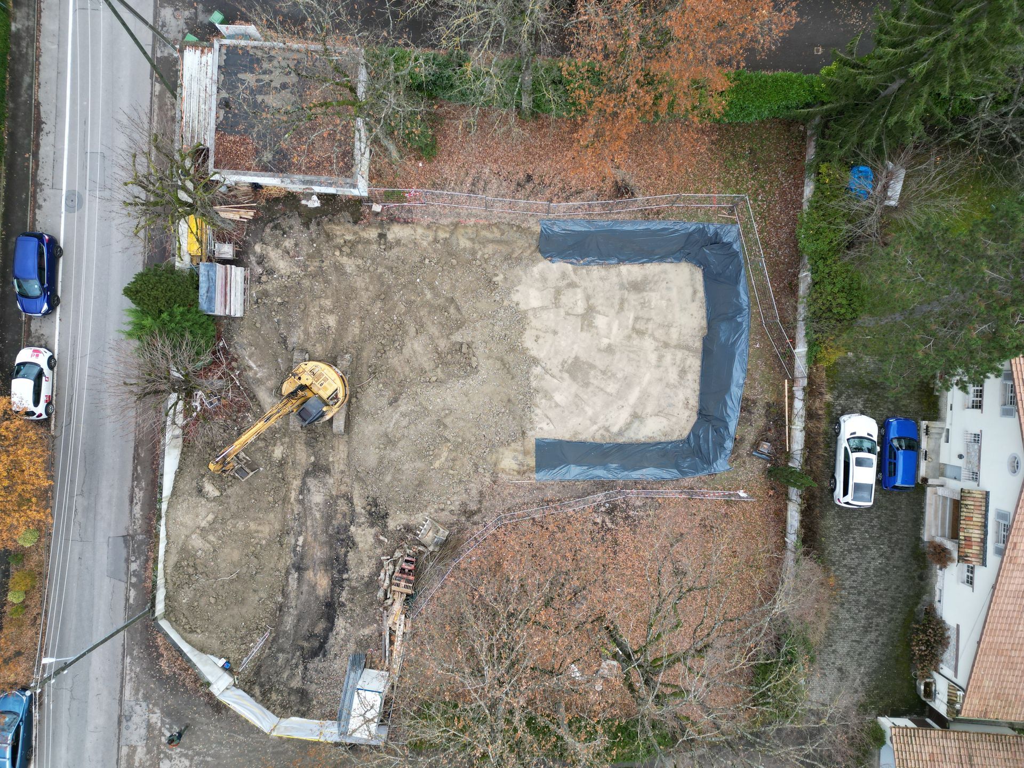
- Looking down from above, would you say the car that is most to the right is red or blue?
blue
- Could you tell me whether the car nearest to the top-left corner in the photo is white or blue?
blue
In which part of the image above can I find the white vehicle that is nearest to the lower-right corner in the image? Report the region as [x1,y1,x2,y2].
[829,412,883,506]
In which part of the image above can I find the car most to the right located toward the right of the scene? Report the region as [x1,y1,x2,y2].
[877,417,924,493]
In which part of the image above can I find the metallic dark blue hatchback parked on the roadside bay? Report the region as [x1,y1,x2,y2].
[11,234,64,315]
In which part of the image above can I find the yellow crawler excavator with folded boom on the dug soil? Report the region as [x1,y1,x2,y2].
[202,352,357,484]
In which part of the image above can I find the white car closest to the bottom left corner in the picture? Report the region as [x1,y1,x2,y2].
[6,348,57,423]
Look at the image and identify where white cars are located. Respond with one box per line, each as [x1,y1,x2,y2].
[829,412,883,506]
[6,348,57,423]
